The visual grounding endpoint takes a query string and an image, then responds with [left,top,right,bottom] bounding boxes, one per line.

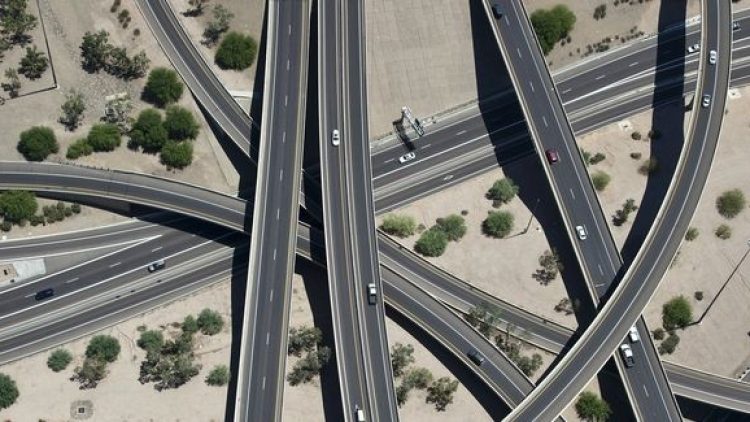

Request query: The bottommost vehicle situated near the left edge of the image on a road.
[34,288,54,301]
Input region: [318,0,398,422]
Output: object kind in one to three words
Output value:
overpass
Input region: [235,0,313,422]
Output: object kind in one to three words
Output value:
overpass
